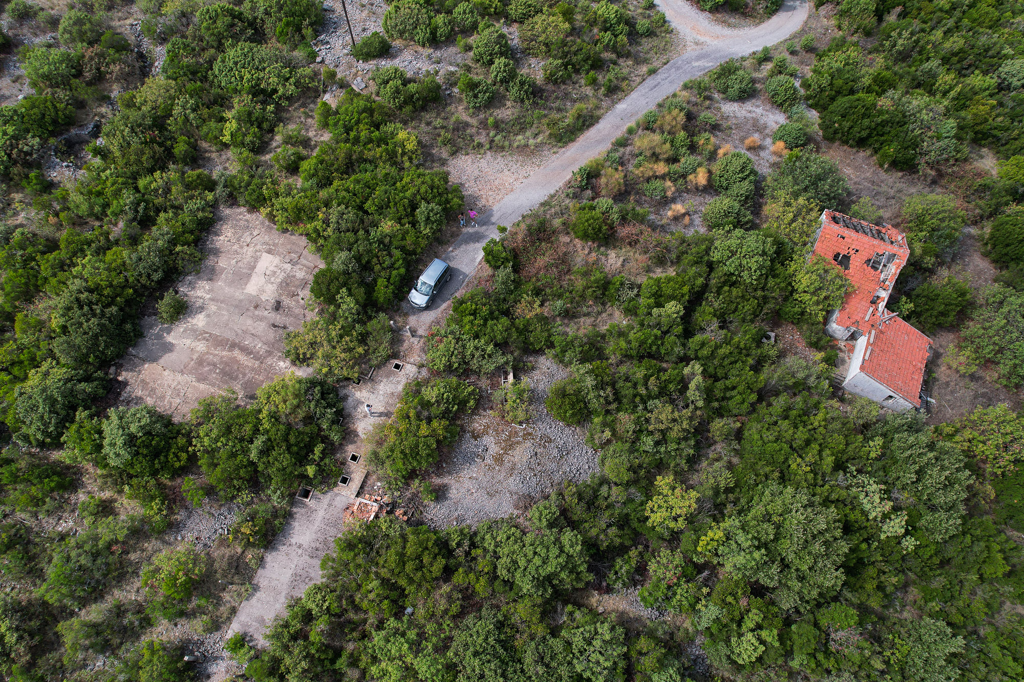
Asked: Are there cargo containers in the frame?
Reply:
No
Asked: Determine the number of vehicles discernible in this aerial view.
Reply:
one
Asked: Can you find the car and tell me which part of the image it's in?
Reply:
center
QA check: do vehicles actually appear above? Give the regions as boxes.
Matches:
[407,258,455,310]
